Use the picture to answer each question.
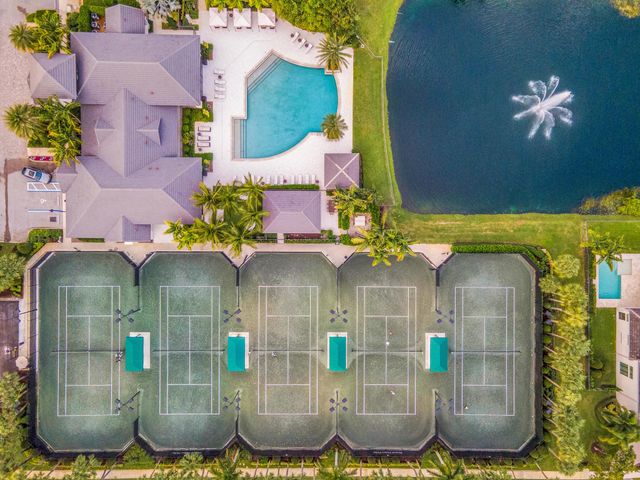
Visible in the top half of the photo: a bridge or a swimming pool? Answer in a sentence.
What appears in the top half of the photo is a swimming pool.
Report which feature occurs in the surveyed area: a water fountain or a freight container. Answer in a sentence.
Looking from above, you can make out a water fountain.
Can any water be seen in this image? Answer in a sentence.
Yes, water can be seen from above here.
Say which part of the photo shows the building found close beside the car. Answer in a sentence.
You can find the building found close beside the car in the top left area of the picture.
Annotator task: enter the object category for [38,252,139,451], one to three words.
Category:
tennis court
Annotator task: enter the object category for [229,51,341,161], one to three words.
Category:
swimming pool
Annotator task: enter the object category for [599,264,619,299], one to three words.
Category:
swimming pool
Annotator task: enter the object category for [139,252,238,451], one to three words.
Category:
tennis court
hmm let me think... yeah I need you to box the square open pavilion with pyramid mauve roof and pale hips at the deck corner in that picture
[324,152,360,189]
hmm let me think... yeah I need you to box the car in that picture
[20,166,51,183]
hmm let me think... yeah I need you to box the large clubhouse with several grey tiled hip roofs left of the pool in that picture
[52,6,206,241]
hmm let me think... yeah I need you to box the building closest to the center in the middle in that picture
[263,191,321,234]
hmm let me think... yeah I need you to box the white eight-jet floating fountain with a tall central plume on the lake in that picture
[511,72,575,142]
